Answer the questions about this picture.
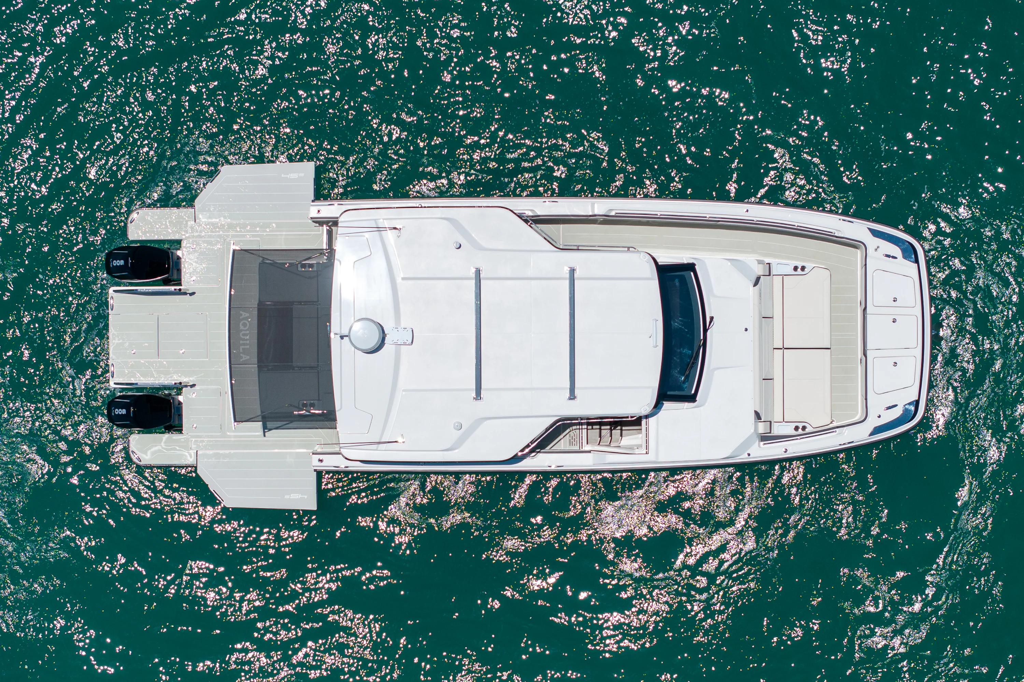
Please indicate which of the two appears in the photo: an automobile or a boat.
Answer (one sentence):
The image shows a boat.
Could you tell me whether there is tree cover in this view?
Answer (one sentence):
No, tree cover can't be seen anywhere here.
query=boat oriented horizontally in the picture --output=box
[103,162,934,510]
